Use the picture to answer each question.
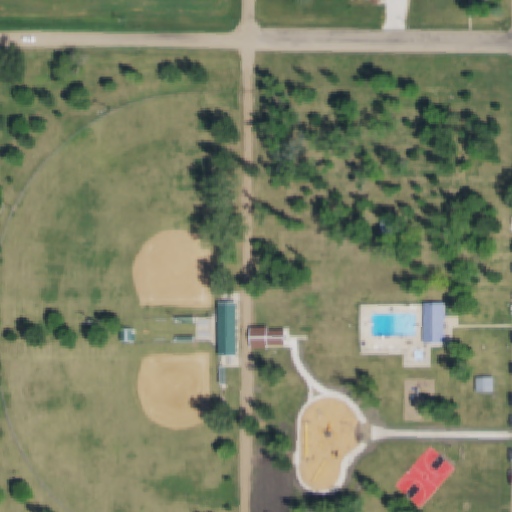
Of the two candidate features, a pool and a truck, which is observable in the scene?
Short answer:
pool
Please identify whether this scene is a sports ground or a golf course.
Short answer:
sports ground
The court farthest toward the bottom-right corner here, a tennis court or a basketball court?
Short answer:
basketball court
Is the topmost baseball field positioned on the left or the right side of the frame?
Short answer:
left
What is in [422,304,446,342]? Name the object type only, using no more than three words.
building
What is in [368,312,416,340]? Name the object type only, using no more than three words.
swimming pool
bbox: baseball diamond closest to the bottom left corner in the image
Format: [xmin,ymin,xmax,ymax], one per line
[0,326,213,512]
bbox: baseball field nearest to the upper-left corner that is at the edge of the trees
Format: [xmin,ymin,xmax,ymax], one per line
[0,92,213,326]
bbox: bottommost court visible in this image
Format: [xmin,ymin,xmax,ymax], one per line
[397,448,454,508]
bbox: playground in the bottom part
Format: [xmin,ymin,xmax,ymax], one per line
[300,396,359,488]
